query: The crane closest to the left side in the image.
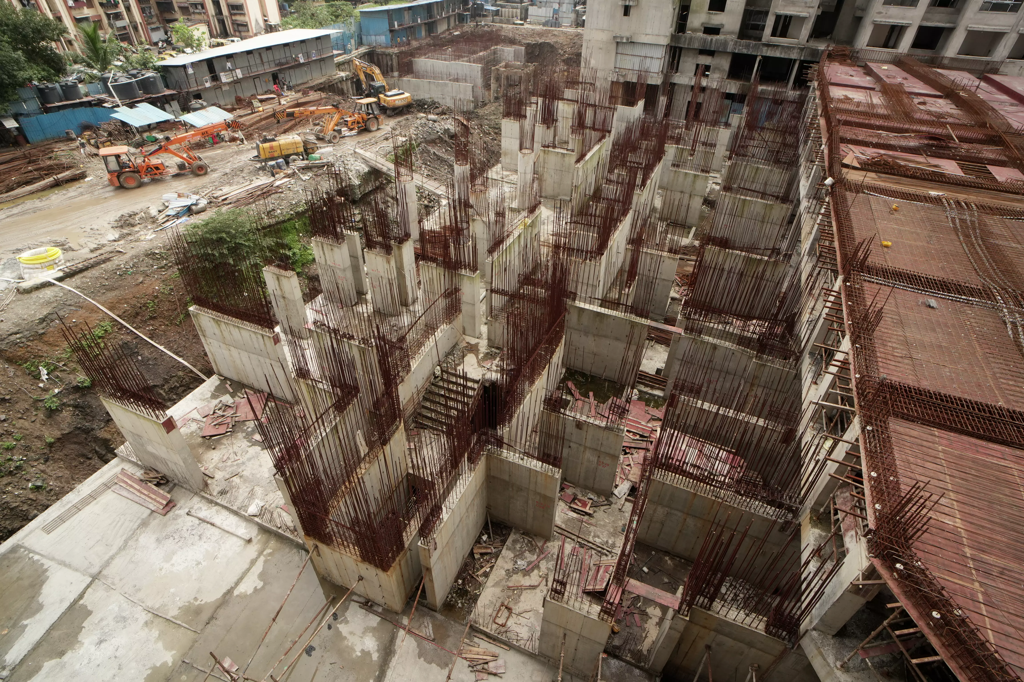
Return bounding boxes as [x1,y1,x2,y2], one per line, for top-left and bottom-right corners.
[95,120,243,189]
